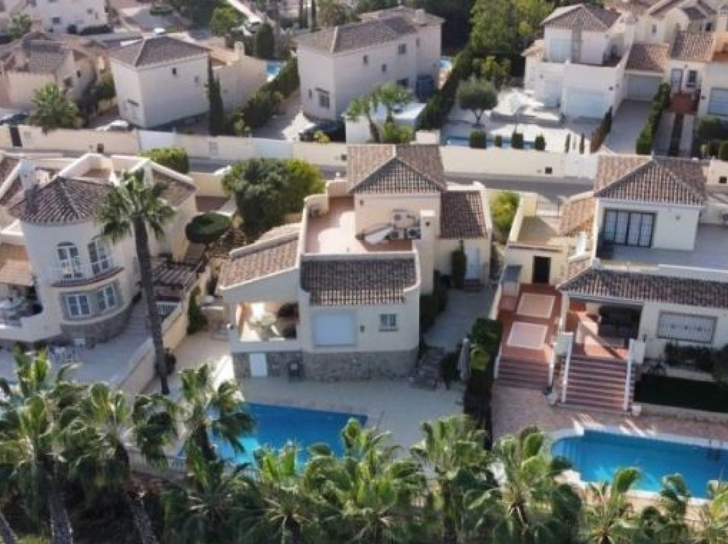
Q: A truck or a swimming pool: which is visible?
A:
swimming pool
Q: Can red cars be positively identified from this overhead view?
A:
No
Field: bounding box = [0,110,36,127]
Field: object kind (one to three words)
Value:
car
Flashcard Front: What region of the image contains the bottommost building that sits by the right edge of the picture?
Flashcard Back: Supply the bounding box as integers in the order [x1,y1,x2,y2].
[509,154,728,354]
